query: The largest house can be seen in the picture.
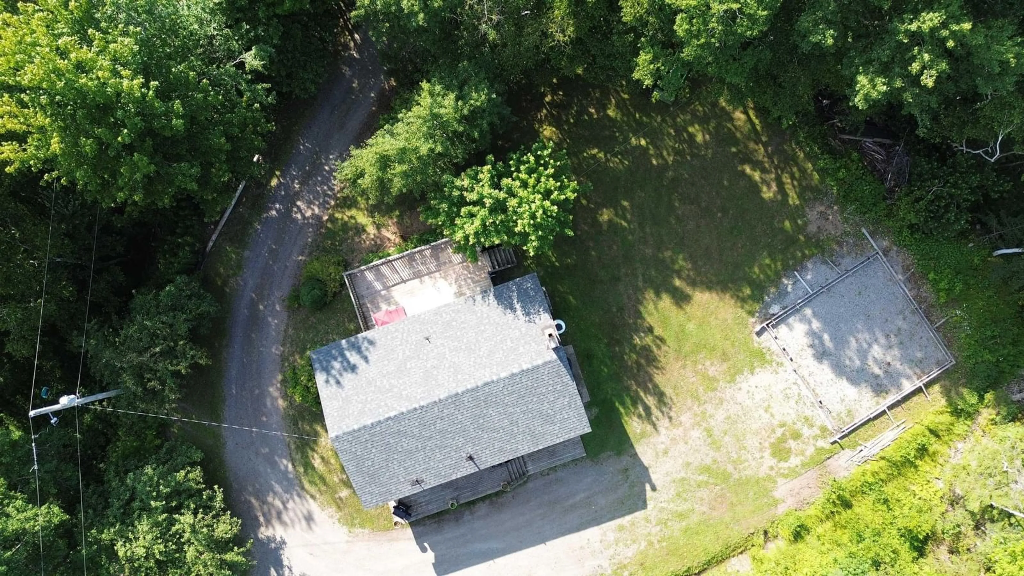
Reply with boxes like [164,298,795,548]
[309,272,591,509]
